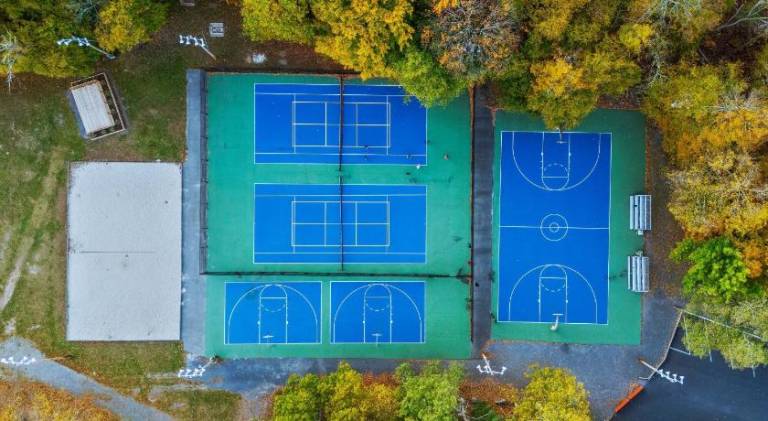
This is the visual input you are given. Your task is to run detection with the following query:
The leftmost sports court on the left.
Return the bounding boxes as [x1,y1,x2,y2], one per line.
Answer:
[66,162,182,341]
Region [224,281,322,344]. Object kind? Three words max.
basketball court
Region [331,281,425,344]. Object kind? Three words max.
basketball court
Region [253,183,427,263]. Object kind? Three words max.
tennis court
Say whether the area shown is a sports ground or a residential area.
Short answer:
sports ground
